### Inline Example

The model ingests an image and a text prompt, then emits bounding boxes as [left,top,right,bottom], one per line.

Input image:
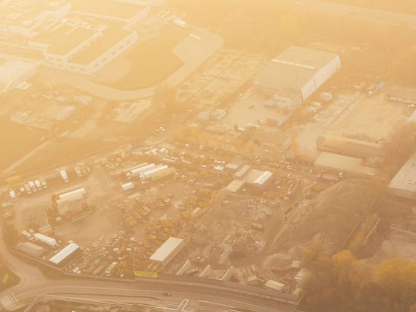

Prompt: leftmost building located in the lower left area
[19,242,47,259]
